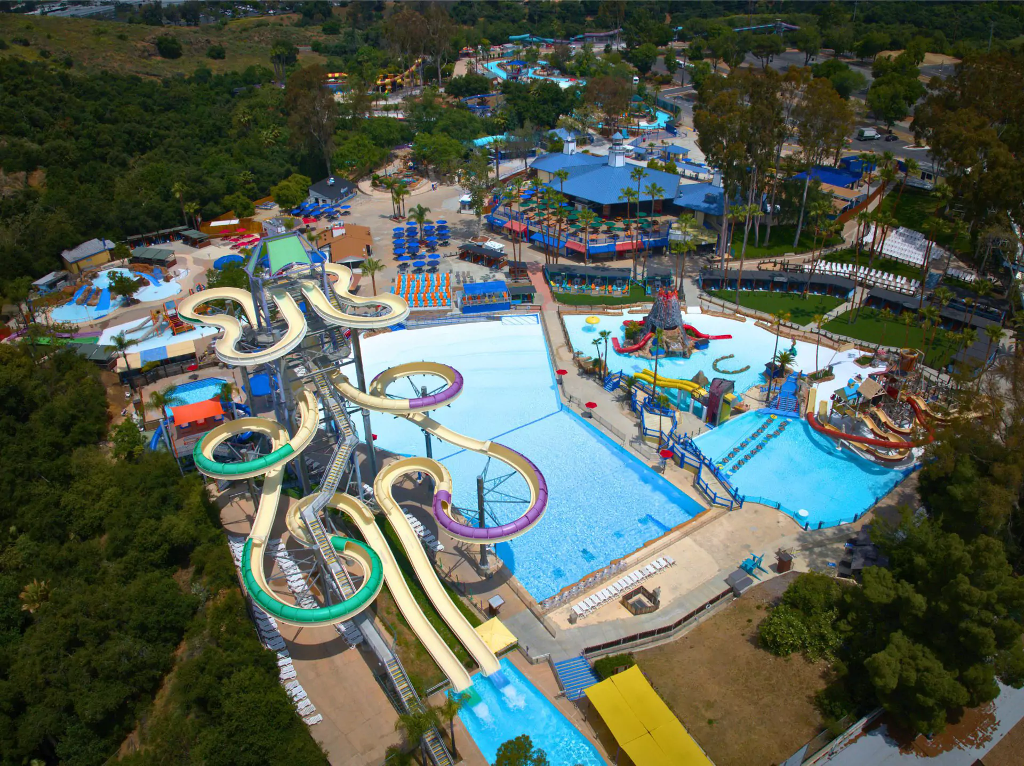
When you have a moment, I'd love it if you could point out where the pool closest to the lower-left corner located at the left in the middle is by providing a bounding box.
[164,377,230,425]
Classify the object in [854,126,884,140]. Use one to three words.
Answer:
vehicle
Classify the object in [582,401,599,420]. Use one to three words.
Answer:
umbrella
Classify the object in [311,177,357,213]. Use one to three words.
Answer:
building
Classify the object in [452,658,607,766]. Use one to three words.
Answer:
swimming pool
